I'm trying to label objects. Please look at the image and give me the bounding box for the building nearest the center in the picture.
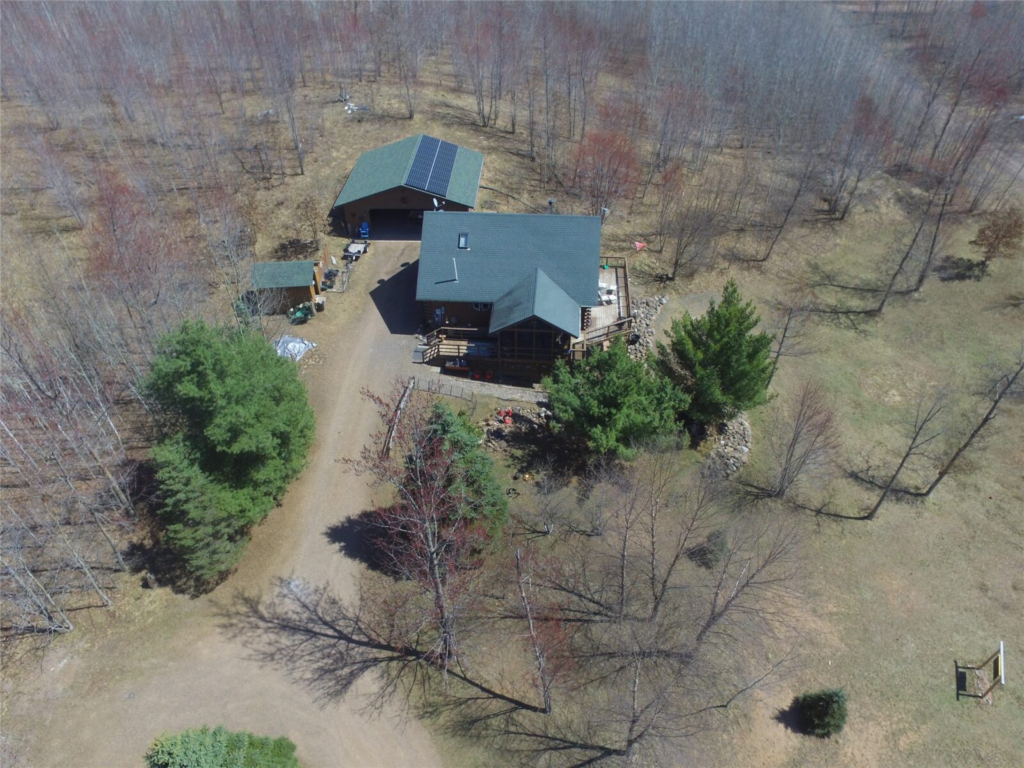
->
[417,201,601,392]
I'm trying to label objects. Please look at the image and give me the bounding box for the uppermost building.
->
[335,135,485,243]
